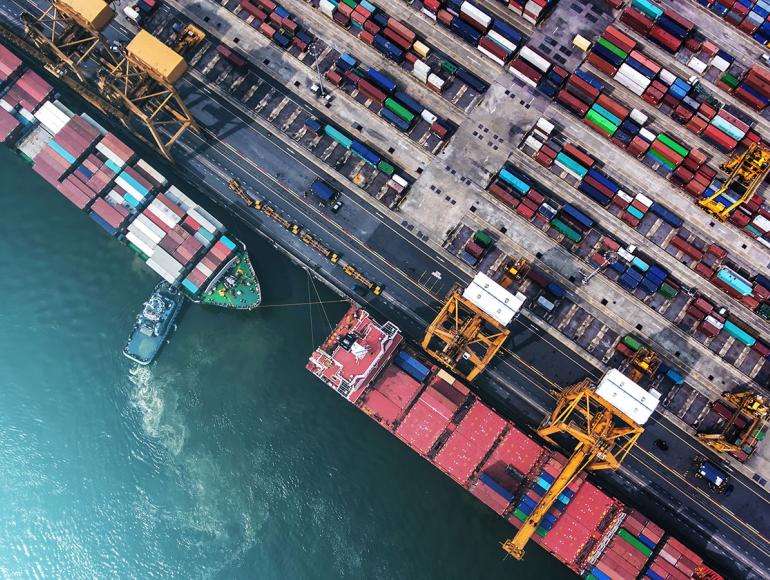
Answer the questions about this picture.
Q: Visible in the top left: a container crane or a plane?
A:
container crane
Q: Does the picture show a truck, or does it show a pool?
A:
truck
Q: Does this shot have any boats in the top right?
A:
No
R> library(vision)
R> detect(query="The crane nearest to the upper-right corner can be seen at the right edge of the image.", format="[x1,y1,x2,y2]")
[696,147,770,223]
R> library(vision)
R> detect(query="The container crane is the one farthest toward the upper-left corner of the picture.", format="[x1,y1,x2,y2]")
[9,0,132,116]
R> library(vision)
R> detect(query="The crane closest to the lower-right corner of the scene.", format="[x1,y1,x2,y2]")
[697,390,770,452]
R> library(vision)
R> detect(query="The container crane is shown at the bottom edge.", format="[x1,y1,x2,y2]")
[500,369,665,566]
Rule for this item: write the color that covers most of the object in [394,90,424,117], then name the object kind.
blue shipping container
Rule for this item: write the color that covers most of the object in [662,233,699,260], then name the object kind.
red shipping container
